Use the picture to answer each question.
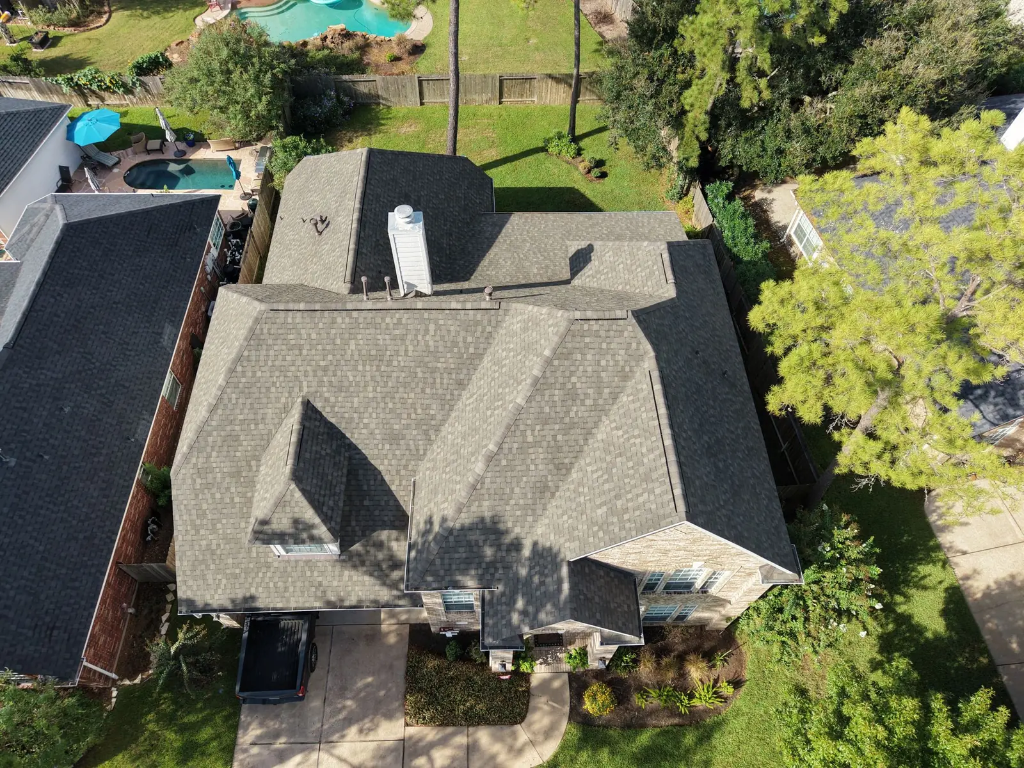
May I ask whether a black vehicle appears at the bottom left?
Yes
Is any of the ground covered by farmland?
No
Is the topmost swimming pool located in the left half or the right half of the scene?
left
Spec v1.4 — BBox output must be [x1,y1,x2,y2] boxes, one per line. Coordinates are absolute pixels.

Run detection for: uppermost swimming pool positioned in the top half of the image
[232,0,417,42]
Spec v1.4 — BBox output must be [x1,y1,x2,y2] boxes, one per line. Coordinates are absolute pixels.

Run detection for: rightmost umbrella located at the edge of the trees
[227,156,243,201]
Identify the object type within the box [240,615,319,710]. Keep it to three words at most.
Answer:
truck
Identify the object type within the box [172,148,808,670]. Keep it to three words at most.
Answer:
house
